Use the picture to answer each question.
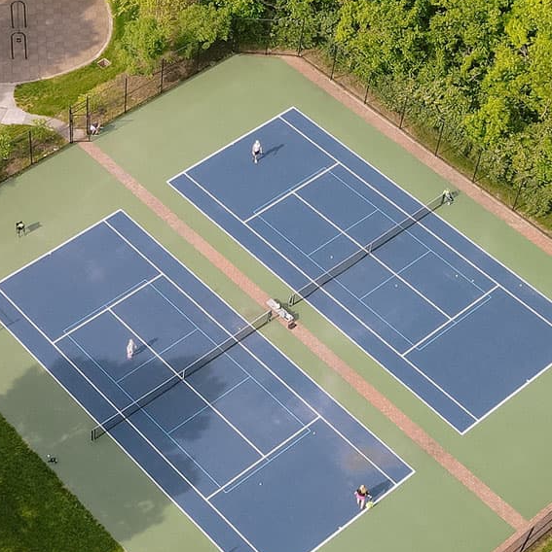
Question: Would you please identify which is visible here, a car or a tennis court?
tennis court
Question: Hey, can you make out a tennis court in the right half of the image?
Yes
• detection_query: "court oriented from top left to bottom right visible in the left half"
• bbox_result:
[0,210,413,552]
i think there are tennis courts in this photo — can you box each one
[0,210,413,552]
[169,107,552,433]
